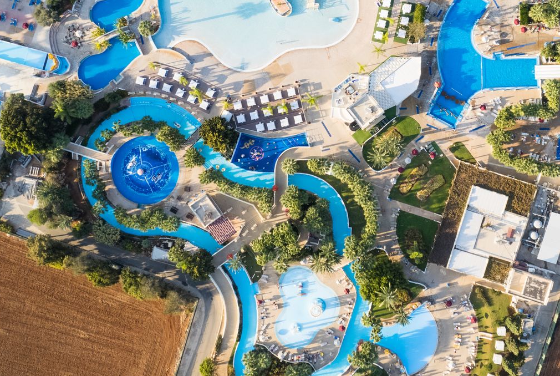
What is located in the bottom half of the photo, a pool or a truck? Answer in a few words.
pool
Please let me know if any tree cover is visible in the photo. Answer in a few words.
Yes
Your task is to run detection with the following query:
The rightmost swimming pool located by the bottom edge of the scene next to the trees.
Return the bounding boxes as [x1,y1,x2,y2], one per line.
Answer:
[363,300,440,376]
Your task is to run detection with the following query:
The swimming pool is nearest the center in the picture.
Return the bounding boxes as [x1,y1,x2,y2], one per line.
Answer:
[228,130,312,174]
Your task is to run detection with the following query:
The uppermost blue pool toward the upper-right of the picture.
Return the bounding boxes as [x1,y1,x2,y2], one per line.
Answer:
[424,0,543,132]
